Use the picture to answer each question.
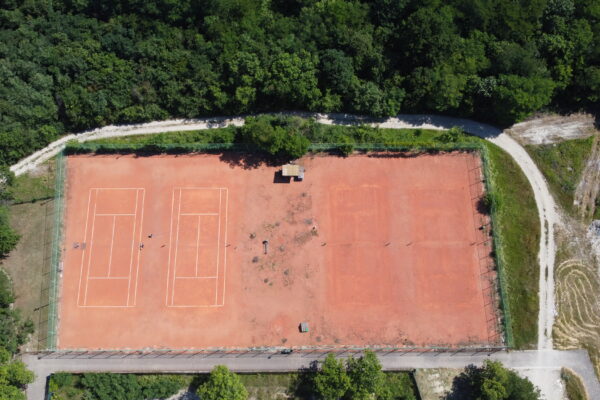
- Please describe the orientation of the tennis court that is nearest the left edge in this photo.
up and down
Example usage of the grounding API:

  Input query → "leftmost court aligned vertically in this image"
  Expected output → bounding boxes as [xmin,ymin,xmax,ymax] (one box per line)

[73,179,149,317]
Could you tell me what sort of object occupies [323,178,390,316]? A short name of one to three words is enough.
tennis court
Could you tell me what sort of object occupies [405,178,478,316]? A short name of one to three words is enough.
tennis court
